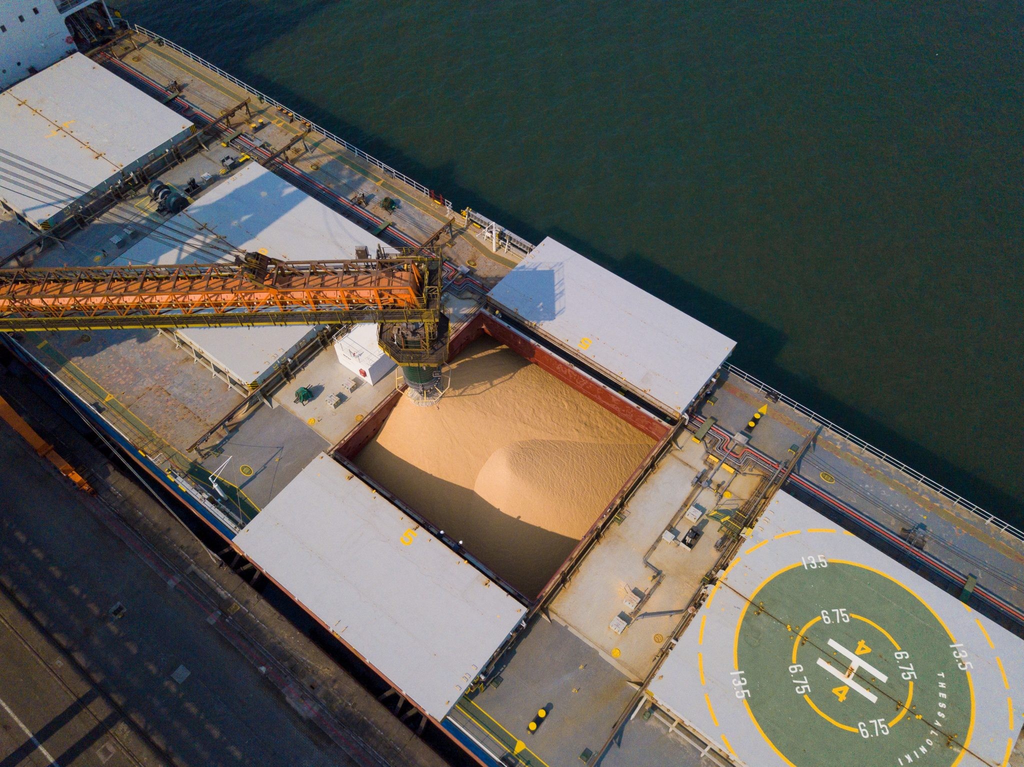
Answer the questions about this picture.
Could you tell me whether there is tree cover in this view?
No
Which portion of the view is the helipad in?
bottom right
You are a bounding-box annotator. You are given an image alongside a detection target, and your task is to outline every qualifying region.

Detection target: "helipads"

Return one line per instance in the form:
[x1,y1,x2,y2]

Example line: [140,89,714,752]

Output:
[699,528,1013,767]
